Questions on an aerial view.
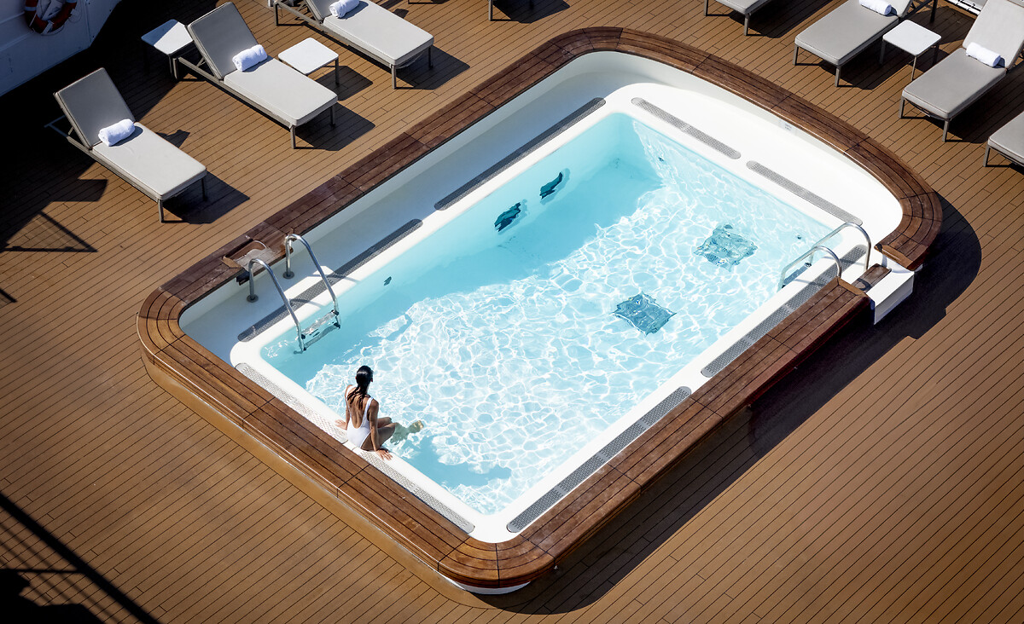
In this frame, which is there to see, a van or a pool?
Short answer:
pool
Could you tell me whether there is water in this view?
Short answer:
Yes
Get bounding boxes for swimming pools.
[137,24,952,612]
